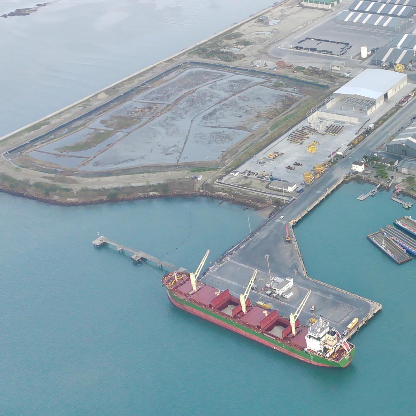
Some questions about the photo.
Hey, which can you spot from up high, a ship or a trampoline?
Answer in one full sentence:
I can see a ship in this picture.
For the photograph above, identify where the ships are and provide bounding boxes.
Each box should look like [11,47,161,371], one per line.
[167,248,358,369]
[368,229,411,265]
[394,214,416,237]
[381,226,416,255]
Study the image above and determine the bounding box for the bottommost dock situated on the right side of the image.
[198,223,382,339]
